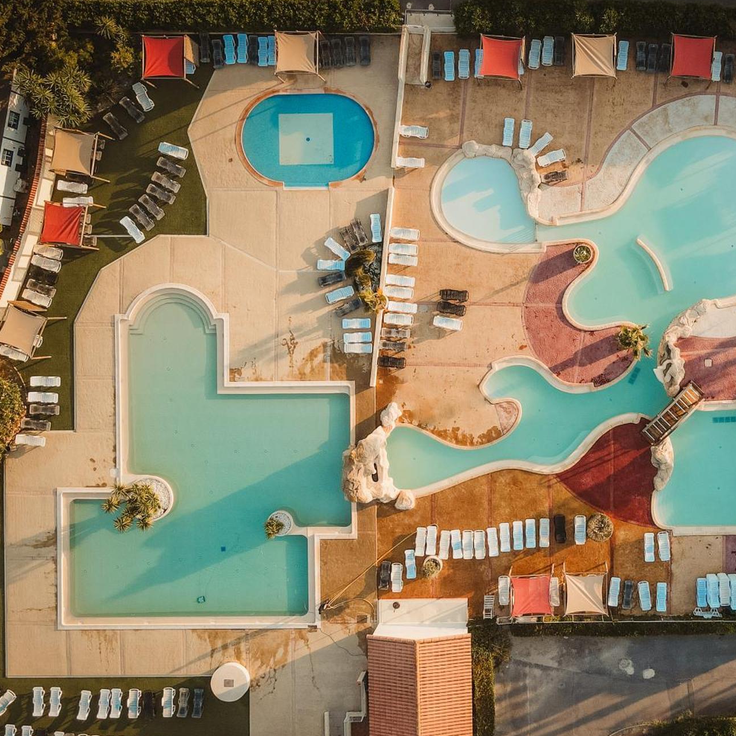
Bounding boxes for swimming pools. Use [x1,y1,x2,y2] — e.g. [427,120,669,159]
[431,149,547,252]
[57,283,356,629]
[381,124,736,534]
[238,88,379,188]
